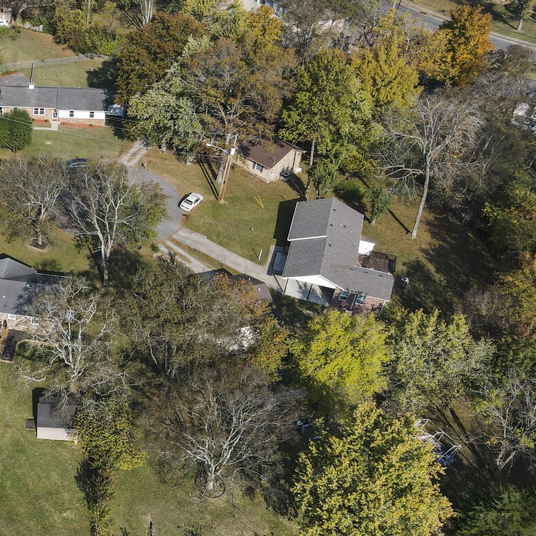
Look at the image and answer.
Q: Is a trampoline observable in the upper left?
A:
No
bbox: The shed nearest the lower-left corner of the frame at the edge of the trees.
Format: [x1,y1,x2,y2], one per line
[25,395,76,442]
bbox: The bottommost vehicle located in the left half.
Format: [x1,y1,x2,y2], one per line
[178,191,206,209]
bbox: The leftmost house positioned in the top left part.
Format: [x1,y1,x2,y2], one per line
[0,53,113,125]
